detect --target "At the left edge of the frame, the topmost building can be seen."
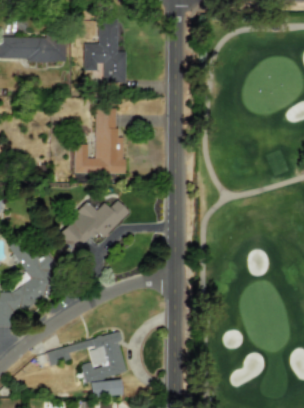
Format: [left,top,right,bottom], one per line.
[0,34,66,62]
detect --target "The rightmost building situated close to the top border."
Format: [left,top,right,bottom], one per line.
[84,20,126,82]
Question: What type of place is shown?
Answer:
golf course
